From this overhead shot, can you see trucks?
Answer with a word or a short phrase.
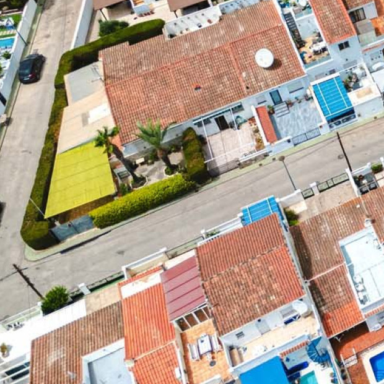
No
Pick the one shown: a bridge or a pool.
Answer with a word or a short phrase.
pool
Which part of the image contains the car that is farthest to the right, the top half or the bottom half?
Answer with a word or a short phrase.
top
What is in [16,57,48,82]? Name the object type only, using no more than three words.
car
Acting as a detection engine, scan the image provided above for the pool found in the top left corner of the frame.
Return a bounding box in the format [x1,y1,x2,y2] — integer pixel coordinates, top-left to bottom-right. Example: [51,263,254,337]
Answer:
[0,35,17,51]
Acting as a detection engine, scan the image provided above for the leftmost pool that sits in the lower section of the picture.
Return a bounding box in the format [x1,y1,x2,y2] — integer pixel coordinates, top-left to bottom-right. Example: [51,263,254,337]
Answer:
[295,368,323,384]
